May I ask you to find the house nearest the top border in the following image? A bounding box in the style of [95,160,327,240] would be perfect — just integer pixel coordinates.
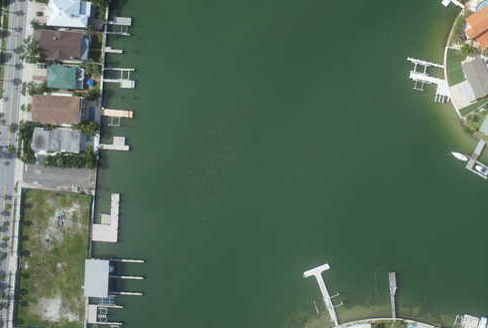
[47,0,91,27]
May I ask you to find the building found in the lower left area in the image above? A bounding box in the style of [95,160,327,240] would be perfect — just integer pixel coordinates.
[84,259,111,297]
